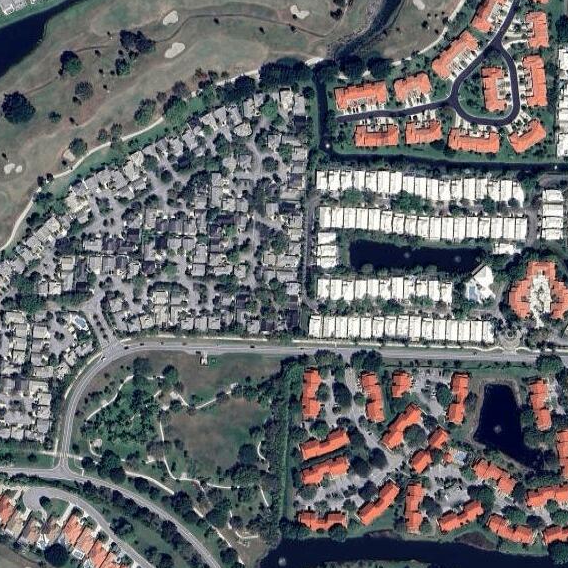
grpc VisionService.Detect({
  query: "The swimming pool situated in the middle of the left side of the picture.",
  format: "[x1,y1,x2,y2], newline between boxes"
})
[73,313,90,332]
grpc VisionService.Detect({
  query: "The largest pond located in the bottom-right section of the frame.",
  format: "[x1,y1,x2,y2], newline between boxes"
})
[472,383,558,470]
